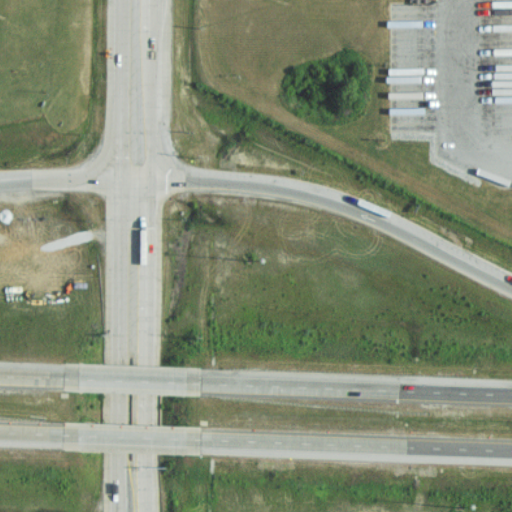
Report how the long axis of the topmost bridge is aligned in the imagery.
from side to side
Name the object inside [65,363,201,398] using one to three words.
bridge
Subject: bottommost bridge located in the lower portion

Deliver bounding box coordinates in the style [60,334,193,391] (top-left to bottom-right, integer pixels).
[65,422,201,456]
